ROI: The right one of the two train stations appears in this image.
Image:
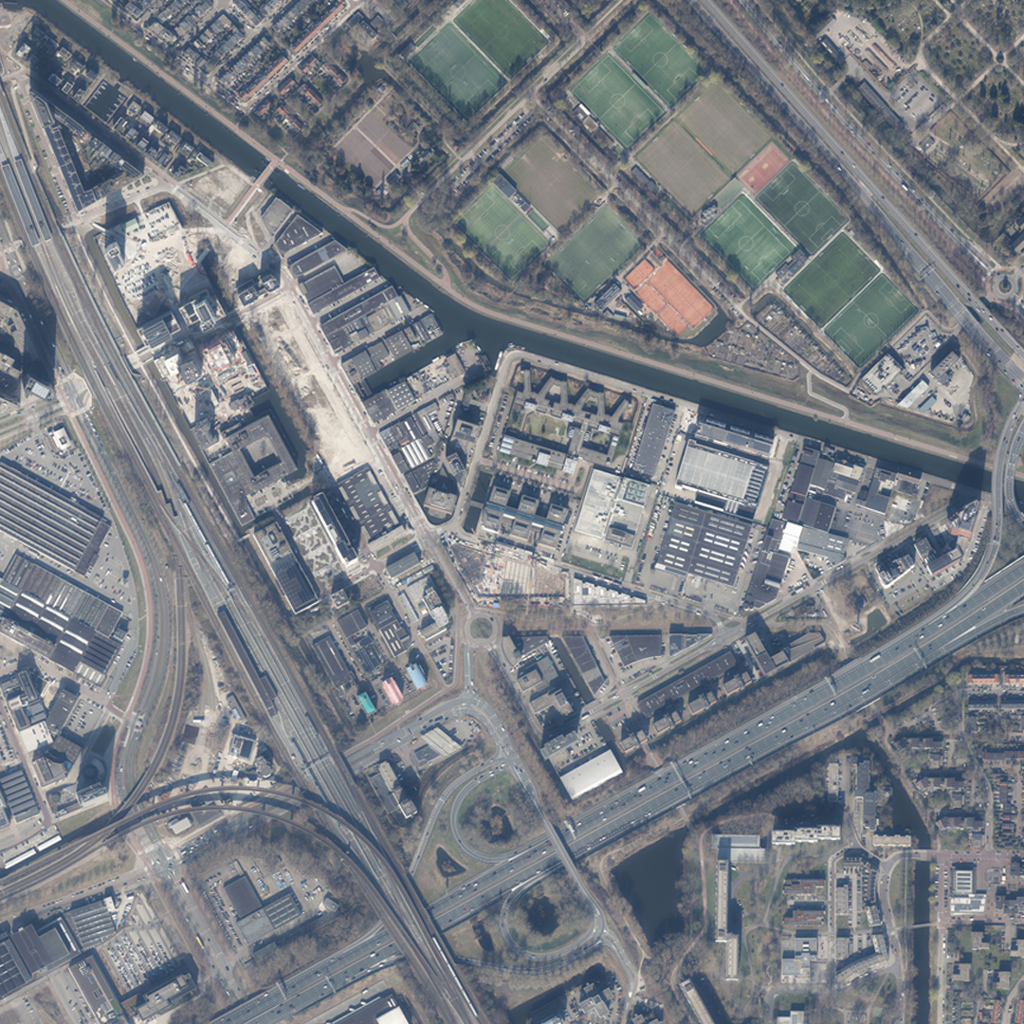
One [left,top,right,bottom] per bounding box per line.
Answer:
[212,599,294,760]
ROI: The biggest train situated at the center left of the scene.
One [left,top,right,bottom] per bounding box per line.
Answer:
[185,507,232,585]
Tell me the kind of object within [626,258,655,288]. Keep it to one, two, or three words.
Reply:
tennis court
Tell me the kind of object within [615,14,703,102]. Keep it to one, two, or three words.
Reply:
soccer field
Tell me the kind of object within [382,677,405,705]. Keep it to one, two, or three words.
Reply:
house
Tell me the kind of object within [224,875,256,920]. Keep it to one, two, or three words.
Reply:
building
